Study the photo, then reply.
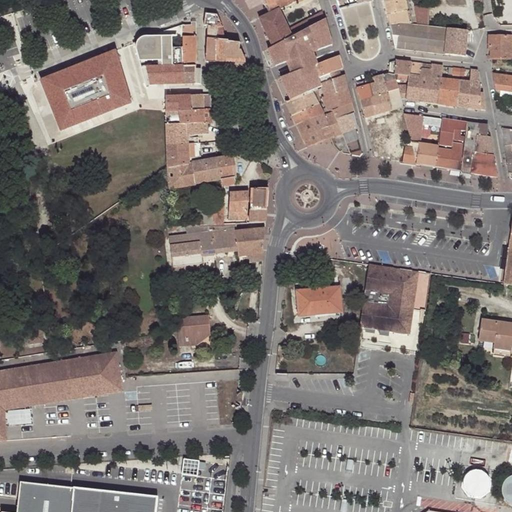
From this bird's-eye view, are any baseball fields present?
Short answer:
No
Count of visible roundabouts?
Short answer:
1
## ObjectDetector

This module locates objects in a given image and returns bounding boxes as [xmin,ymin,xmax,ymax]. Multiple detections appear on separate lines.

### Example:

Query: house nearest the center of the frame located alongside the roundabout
[236,224,264,262]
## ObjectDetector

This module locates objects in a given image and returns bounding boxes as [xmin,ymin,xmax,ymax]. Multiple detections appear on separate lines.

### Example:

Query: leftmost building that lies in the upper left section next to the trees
[40,48,130,130]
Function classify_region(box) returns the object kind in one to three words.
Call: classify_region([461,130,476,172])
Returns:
building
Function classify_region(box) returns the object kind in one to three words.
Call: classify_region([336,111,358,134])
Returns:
house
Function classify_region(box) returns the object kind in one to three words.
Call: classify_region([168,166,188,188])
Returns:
house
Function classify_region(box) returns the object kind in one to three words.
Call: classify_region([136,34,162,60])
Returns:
building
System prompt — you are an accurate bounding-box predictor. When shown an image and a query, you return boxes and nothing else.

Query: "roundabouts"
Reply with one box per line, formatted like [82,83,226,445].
[277,165,339,227]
